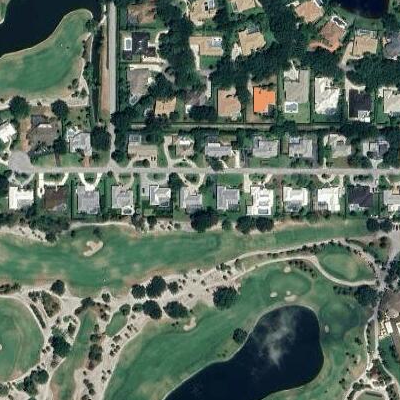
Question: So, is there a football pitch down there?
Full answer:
No, no football pitch is visible in the view.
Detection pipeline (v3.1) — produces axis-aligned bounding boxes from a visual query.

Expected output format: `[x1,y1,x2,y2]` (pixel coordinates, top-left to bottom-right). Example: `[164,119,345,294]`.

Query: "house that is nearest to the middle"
[179,187,204,210]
